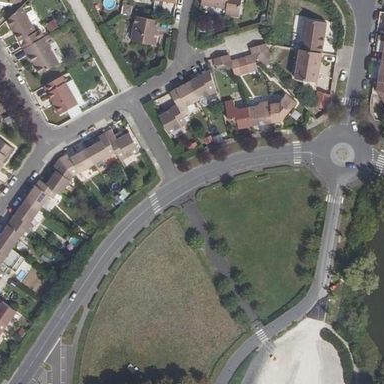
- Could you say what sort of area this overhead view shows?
residential area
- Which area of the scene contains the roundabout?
right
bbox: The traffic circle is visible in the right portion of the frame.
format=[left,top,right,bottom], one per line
[316,127,370,181]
